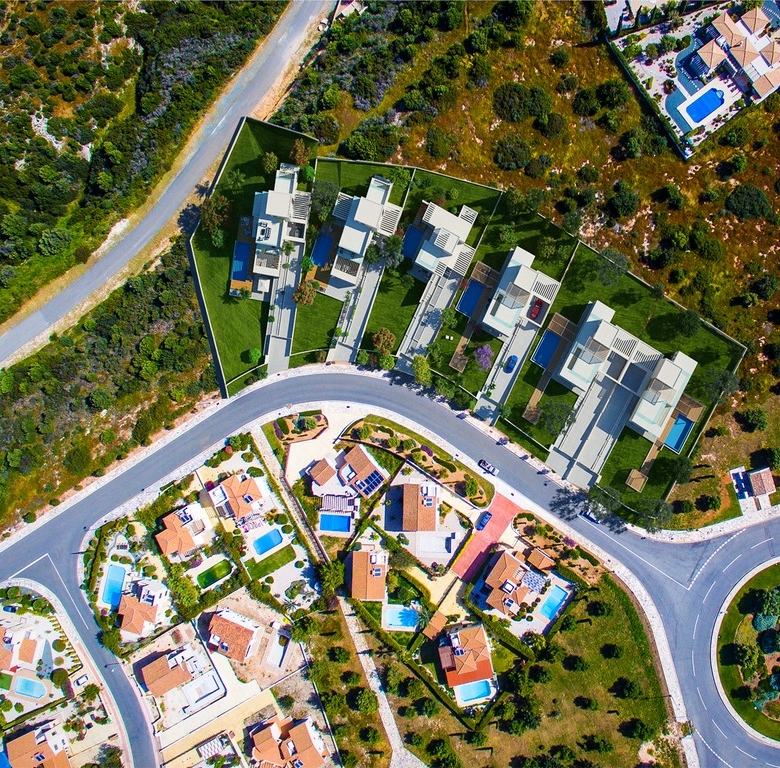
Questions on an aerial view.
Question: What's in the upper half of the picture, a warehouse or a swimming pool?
swimming pool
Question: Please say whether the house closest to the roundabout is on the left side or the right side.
right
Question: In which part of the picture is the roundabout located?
bottom right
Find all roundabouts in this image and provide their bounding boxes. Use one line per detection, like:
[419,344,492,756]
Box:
[711,557,780,746]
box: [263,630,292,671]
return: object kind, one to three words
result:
swimming pool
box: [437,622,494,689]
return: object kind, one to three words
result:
house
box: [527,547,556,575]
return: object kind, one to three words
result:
building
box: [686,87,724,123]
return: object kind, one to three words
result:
swimming pool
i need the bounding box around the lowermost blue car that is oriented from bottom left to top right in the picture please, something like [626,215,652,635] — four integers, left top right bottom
[475,509,493,531]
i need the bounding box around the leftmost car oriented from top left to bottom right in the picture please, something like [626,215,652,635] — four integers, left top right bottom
[477,459,500,477]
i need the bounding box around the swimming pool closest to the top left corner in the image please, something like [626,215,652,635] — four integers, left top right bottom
[230,240,251,282]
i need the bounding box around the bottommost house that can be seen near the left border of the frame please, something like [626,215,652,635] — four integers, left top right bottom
[7,714,77,768]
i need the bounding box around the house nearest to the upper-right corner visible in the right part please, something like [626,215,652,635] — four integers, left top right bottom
[685,7,780,101]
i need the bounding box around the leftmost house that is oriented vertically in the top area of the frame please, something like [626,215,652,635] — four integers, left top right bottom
[252,162,313,293]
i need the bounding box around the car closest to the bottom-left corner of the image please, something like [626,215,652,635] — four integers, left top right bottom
[71,673,91,687]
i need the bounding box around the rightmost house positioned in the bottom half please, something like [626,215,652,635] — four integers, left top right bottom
[727,464,778,496]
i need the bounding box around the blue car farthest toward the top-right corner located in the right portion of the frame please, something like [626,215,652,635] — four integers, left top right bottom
[503,354,518,374]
